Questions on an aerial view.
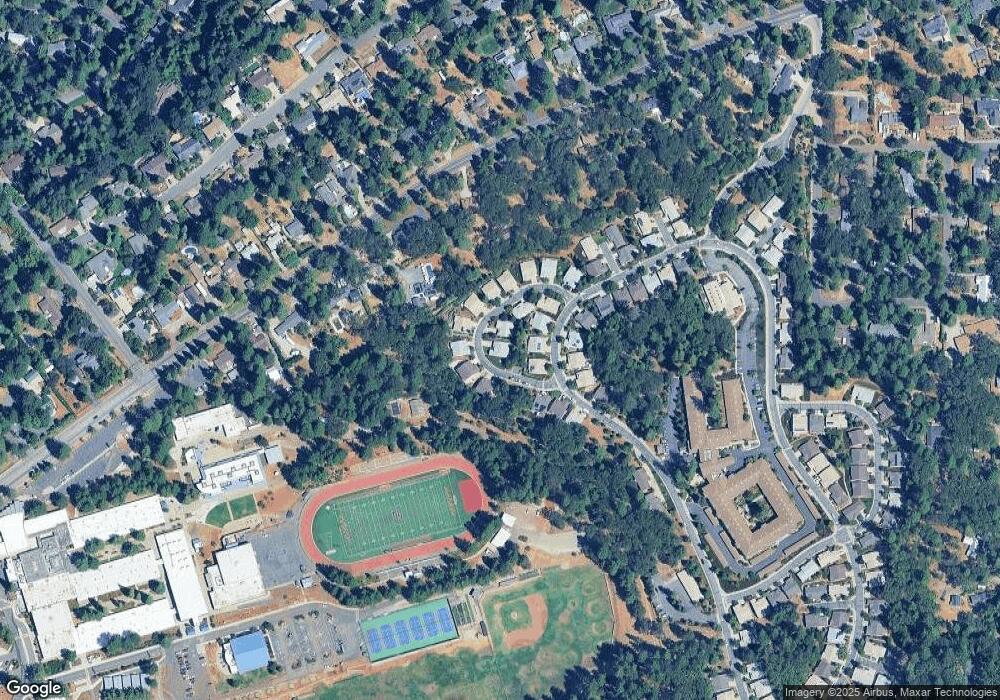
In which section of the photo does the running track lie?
bottom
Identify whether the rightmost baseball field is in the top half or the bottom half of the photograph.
bottom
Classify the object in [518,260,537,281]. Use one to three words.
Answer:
house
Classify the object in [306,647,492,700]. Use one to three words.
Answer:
sports field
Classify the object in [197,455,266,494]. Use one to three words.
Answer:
building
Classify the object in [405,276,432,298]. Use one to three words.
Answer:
house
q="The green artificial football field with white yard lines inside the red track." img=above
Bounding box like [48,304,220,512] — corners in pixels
[310,469,478,560]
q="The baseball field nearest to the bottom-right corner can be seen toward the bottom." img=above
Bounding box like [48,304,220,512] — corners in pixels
[484,569,612,700]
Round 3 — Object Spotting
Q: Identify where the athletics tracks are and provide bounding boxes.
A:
[299,456,490,573]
